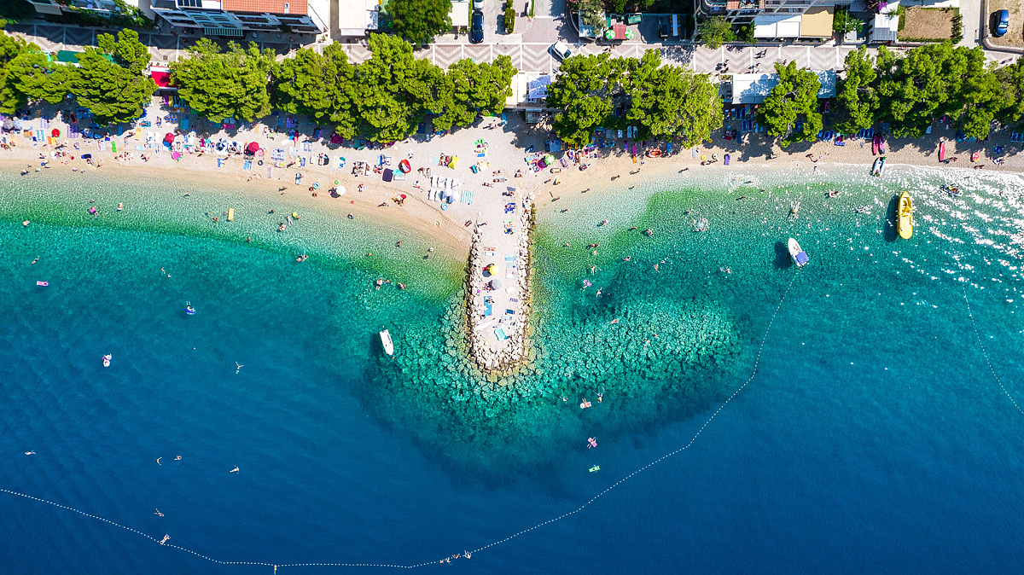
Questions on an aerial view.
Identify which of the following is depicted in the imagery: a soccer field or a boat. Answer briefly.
boat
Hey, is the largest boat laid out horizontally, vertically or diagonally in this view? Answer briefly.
vertically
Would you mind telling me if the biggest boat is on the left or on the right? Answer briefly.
right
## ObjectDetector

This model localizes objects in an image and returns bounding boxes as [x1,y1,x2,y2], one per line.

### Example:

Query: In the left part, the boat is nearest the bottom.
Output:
[377,327,391,355]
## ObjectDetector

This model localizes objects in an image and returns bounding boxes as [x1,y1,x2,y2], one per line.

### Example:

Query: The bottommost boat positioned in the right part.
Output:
[791,239,813,270]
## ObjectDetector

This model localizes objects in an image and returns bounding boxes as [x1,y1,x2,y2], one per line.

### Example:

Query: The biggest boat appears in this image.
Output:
[896,190,916,240]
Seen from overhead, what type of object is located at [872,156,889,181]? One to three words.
boat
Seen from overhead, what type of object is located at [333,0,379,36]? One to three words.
building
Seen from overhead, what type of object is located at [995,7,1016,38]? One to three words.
car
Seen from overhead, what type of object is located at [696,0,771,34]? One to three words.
building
